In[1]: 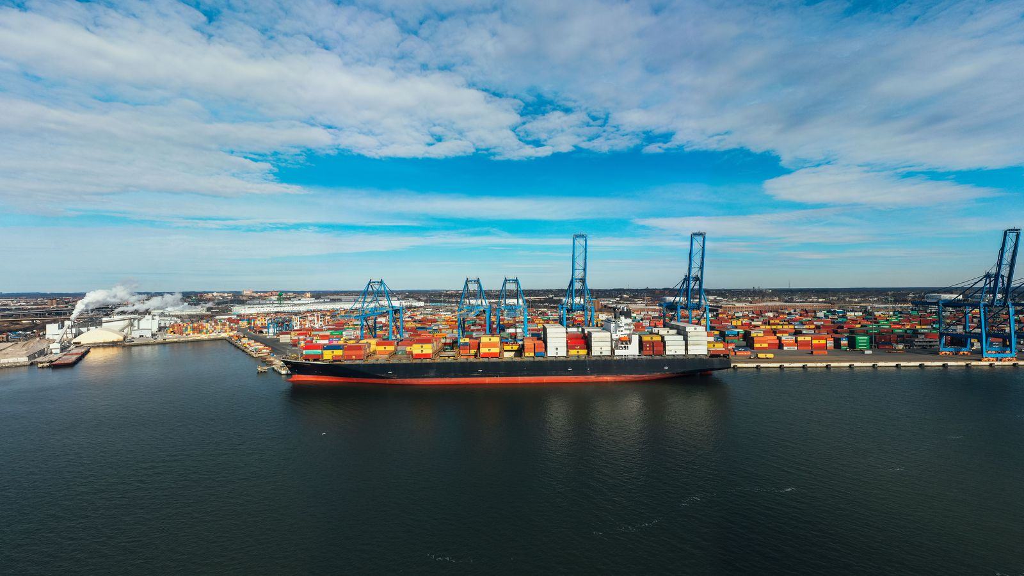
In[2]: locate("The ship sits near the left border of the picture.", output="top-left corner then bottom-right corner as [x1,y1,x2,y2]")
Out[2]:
[48,344,96,368]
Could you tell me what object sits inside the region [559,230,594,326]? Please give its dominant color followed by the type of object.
blue container crane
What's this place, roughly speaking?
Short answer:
port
